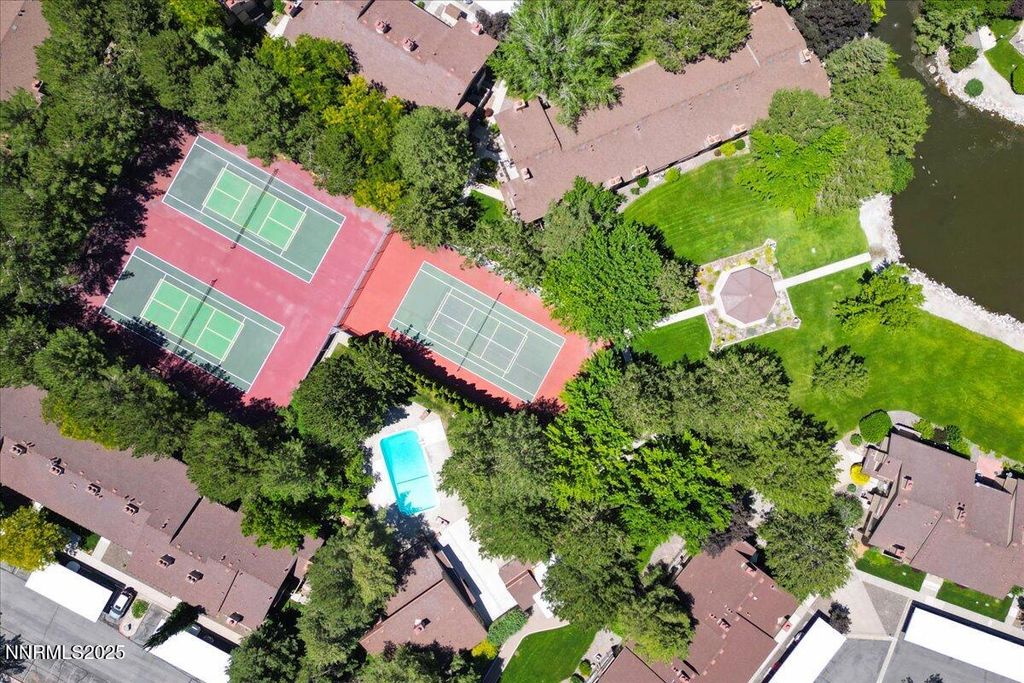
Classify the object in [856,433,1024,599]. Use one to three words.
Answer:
house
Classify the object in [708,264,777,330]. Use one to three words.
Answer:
gazebo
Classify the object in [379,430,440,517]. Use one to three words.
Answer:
swimming pool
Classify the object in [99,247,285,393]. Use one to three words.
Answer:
tennis court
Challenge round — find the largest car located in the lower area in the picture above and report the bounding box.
[107,588,133,622]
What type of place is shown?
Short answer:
residential area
